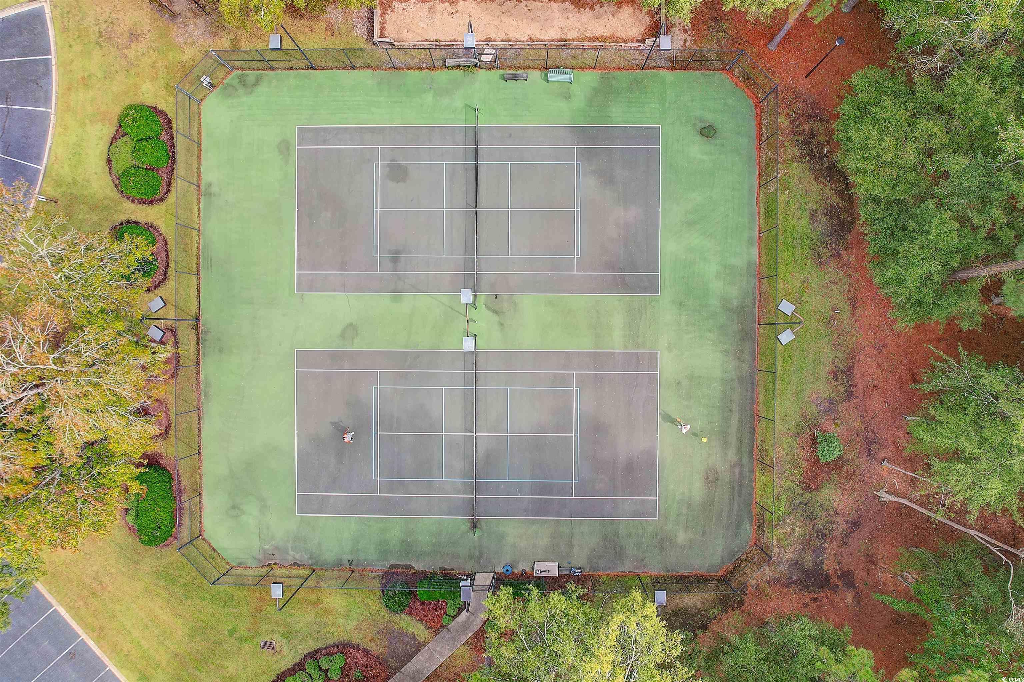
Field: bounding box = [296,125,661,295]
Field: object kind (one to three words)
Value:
tennis court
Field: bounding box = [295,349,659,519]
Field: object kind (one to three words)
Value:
tennis court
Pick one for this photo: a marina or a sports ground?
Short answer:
sports ground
